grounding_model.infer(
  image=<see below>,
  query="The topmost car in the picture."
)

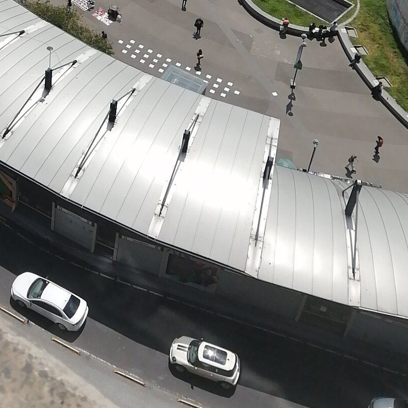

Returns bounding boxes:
[10,276,91,333]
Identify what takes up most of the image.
buildings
